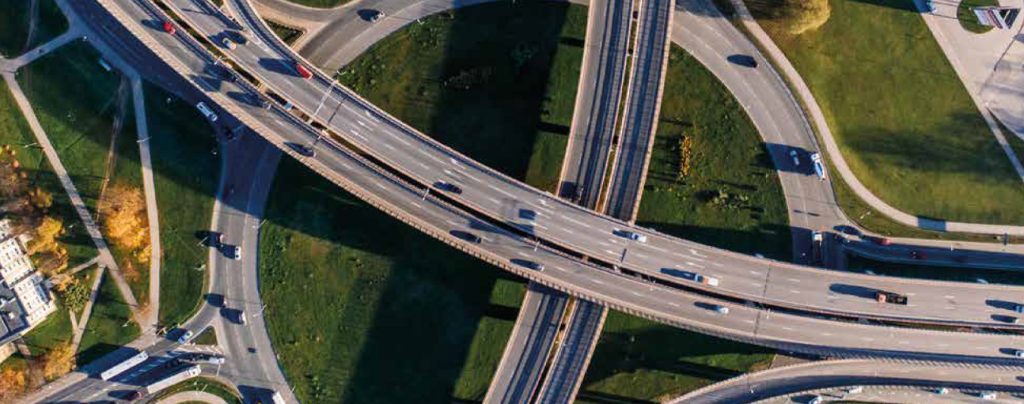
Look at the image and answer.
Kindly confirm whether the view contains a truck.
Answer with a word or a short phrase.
Yes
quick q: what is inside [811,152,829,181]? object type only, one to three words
vehicle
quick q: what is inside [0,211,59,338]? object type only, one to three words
building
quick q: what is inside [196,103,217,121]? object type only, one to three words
vehicle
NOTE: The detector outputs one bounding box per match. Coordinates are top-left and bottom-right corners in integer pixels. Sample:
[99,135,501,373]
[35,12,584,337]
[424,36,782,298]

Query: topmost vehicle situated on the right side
[748,55,761,69]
